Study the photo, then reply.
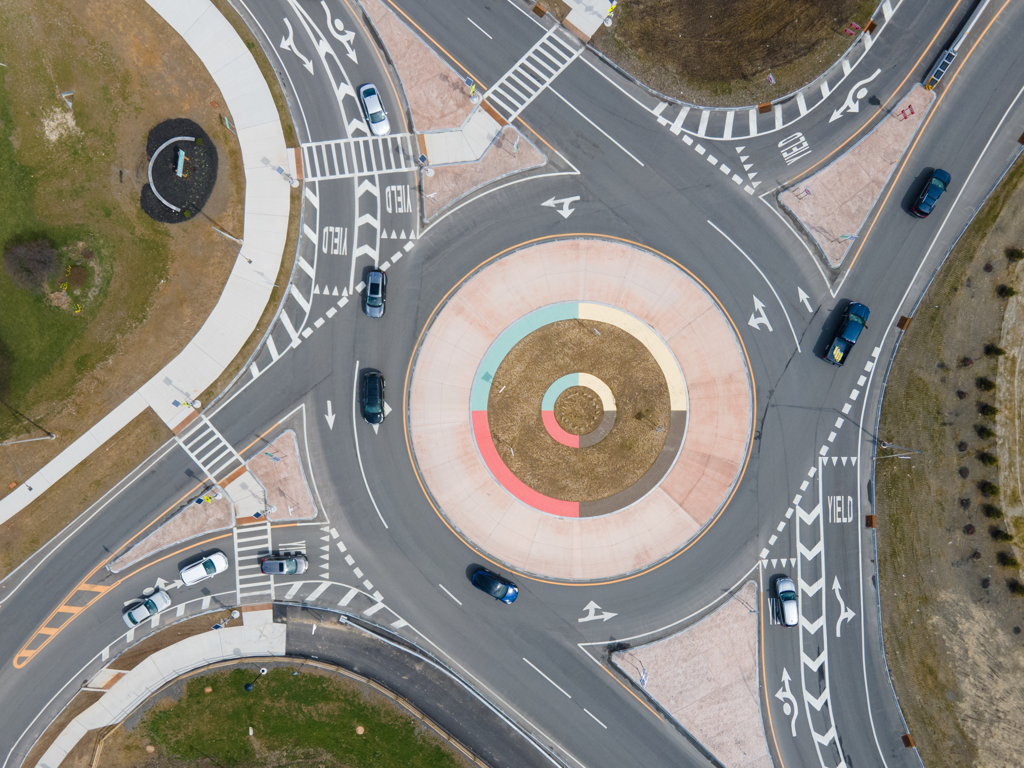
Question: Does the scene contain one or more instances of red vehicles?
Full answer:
No, no red vehicle can be seen from above.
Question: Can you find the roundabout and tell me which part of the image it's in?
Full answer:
The roundabout sits in the center section of the image.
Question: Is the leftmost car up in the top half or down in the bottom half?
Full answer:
It is in the bottom half that the leftmost car appears.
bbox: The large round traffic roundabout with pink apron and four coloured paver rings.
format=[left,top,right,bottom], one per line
[291,116,881,671]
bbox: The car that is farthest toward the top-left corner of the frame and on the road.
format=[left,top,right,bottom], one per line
[359,83,391,138]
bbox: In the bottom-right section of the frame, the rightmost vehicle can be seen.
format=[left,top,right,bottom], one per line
[770,576,799,630]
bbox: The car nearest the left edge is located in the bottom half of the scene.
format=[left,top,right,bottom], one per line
[121,591,174,629]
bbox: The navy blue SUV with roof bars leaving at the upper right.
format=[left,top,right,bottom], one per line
[909,169,949,219]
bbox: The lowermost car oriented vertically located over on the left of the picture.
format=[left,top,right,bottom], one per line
[360,372,386,425]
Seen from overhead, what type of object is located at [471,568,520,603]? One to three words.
car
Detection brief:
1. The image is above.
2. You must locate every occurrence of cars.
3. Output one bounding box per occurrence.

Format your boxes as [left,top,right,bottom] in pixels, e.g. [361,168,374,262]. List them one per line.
[360,372,386,425]
[362,269,388,319]
[909,169,949,219]
[770,576,799,630]
[179,551,231,587]
[121,591,174,629]
[259,552,310,578]
[359,83,391,138]
[471,568,520,603]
